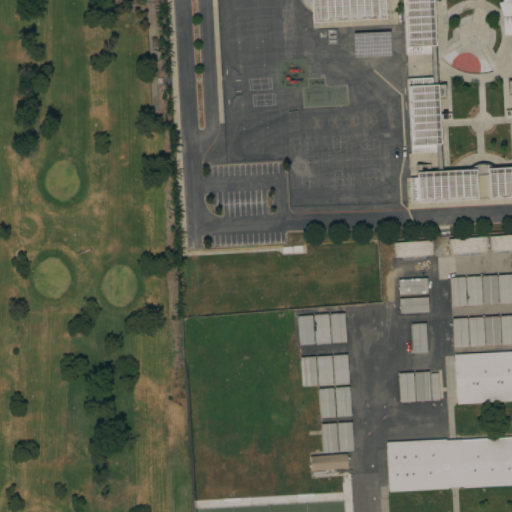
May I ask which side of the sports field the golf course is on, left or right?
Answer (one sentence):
From the viewer's perspective, the golf course falls to the left of the sports field.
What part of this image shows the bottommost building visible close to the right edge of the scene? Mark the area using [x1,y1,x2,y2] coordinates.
[388,436,512,492]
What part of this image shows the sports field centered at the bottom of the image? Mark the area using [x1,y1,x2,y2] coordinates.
[184,310,350,512]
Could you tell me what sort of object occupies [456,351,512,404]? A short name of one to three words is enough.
building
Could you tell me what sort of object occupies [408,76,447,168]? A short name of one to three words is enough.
building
